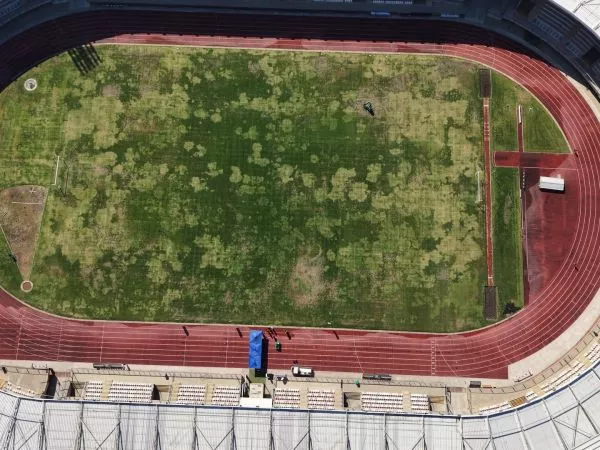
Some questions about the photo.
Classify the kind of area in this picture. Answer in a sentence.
It's a sports ground.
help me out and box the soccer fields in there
[0,44,575,332]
